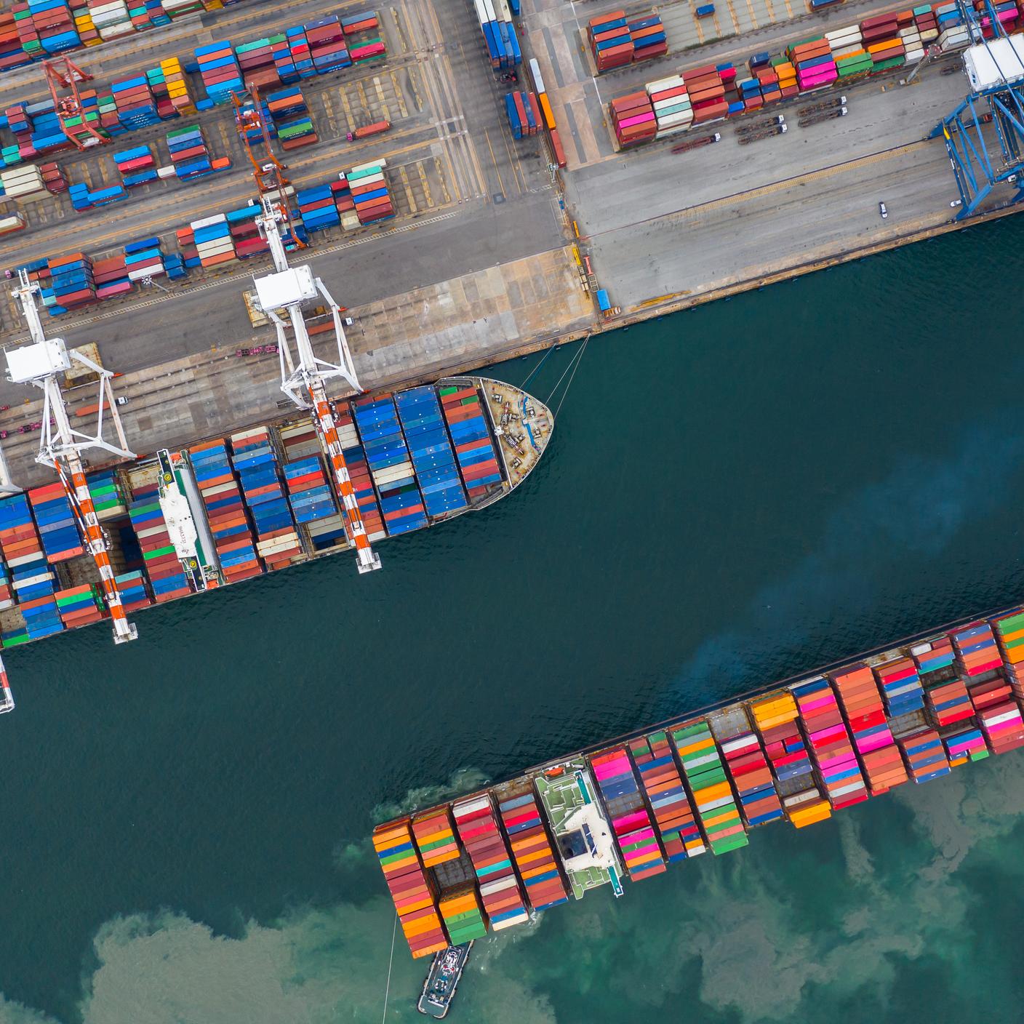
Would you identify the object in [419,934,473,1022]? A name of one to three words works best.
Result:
boat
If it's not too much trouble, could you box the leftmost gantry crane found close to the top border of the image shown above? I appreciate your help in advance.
[38,50,112,150]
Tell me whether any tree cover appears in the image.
No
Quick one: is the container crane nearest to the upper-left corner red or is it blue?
red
